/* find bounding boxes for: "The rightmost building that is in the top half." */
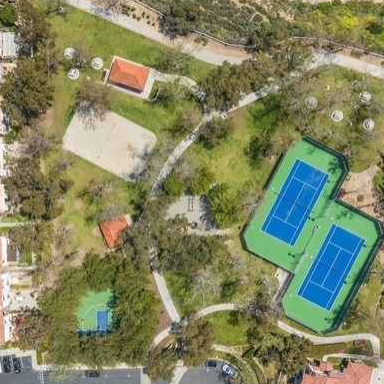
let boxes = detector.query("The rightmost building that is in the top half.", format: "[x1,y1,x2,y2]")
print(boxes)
[109,58,149,91]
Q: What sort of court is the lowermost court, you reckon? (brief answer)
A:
basketball court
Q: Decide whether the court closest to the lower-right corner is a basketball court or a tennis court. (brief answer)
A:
tennis court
